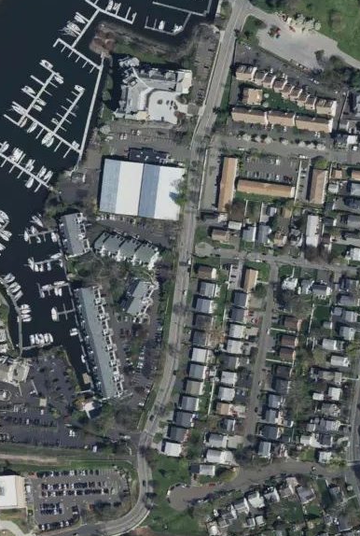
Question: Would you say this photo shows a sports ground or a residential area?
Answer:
residential area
